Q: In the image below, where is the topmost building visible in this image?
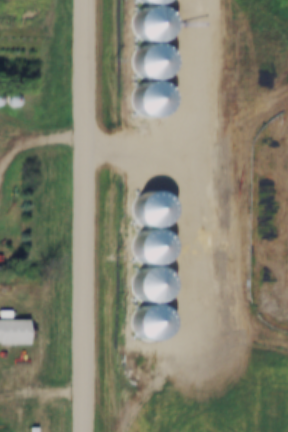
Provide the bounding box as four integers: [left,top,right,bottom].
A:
[0,310,36,347]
